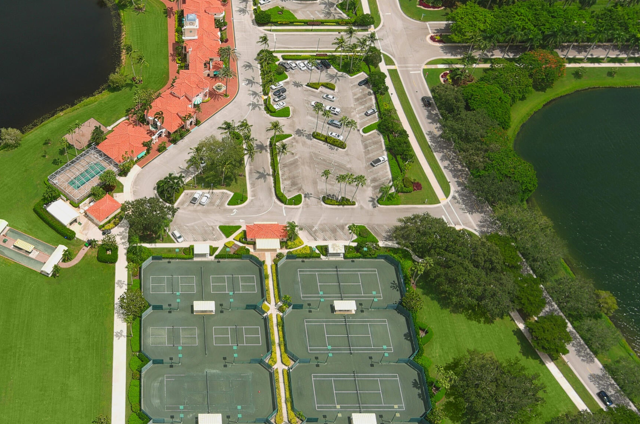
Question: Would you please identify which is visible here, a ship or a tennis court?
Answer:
tennis court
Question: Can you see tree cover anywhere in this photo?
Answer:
Yes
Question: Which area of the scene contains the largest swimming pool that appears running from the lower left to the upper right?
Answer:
left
